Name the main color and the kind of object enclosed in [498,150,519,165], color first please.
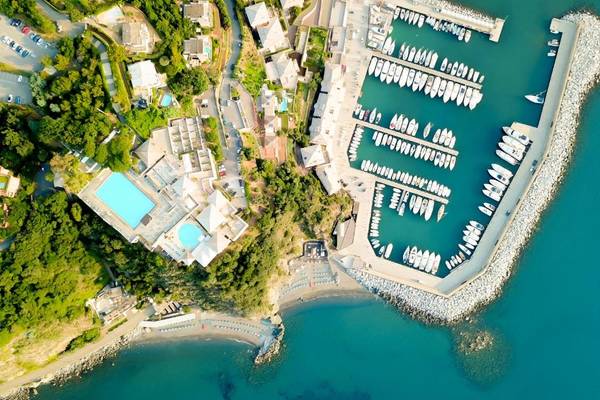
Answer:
white boat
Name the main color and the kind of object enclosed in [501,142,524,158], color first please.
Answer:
white boat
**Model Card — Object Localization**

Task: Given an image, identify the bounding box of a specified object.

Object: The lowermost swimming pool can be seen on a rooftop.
[177,221,203,249]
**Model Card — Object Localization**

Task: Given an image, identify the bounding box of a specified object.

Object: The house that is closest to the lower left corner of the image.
[87,285,135,322]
